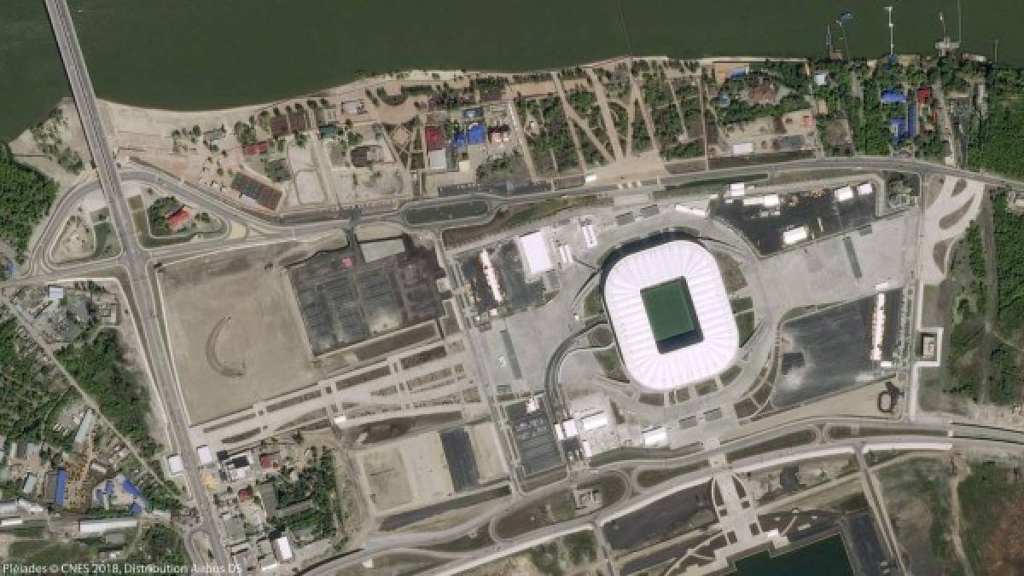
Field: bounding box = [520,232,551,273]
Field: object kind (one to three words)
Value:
building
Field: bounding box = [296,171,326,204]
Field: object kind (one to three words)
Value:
sports court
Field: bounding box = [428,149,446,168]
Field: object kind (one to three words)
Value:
building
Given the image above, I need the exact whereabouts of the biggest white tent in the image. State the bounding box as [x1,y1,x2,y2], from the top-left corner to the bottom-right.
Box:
[782,225,809,245]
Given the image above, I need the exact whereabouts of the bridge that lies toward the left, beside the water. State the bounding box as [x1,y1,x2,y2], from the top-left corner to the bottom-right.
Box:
[45,0,138,245]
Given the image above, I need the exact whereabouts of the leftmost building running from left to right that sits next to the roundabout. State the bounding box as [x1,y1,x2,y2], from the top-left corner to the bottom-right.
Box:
[360,238,405,262]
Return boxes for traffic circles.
[402,193,496,230]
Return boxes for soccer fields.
[645,282,699,349]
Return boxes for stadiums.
[604,240,739,390]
